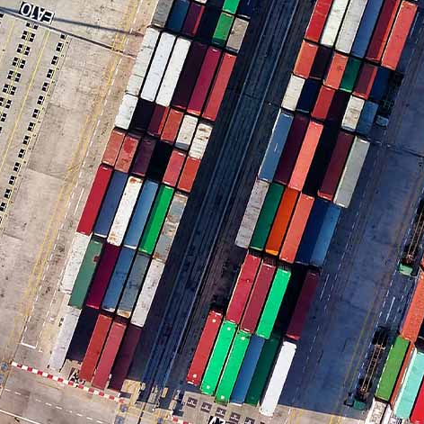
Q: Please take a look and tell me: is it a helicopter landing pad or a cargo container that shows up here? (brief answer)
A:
cargo container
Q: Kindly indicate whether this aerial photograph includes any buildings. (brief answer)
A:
No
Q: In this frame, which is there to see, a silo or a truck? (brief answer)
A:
truck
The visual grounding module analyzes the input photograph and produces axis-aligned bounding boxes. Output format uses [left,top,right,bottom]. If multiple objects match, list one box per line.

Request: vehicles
[351,338,392,423]
[399,200,424,281]
[374,47,415,131]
